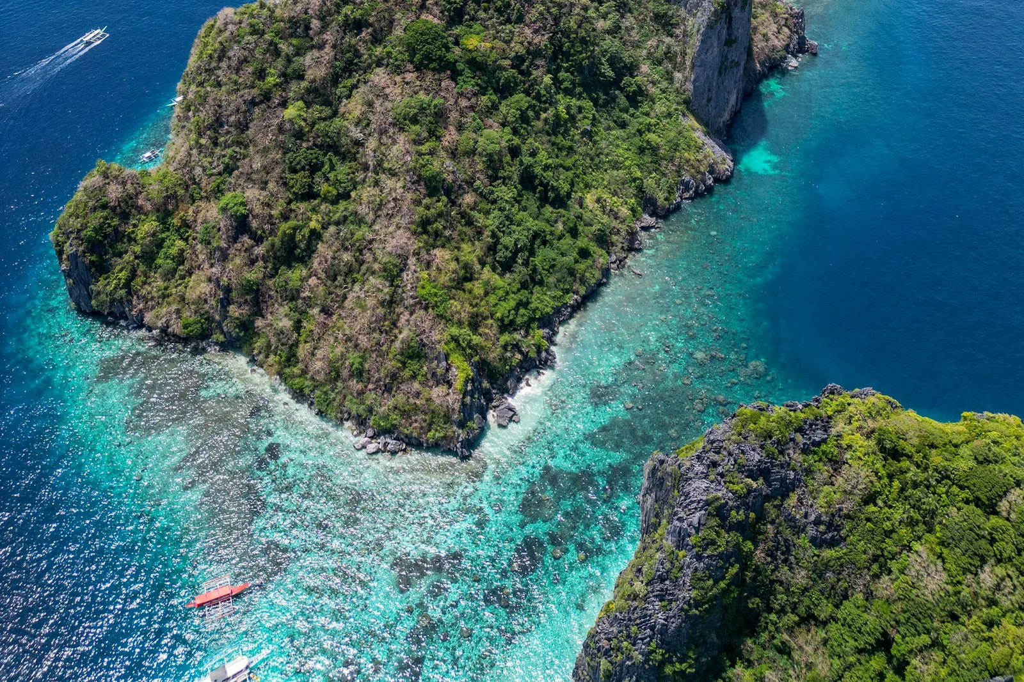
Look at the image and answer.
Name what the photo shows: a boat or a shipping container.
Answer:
boat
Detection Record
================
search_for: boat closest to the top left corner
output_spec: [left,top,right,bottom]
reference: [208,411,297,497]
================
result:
[77,26,110,45]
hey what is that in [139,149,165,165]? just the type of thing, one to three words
boat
